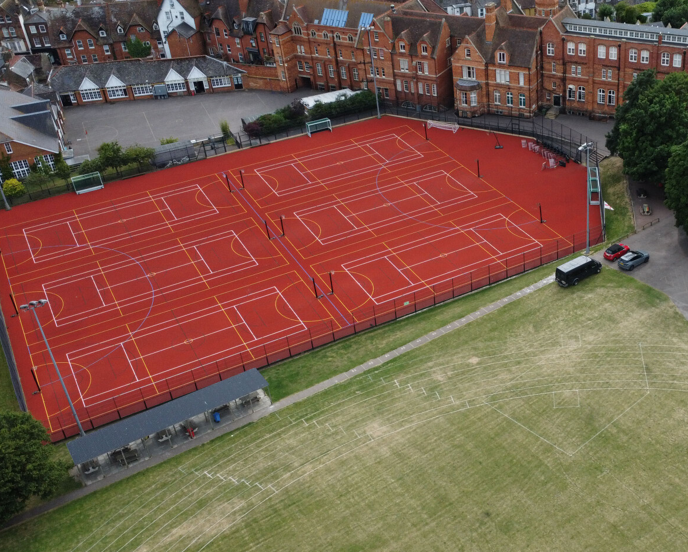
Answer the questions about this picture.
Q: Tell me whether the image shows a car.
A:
Yes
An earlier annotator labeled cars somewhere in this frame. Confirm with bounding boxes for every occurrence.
[617,249,652,269]
[602,242,631,261]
